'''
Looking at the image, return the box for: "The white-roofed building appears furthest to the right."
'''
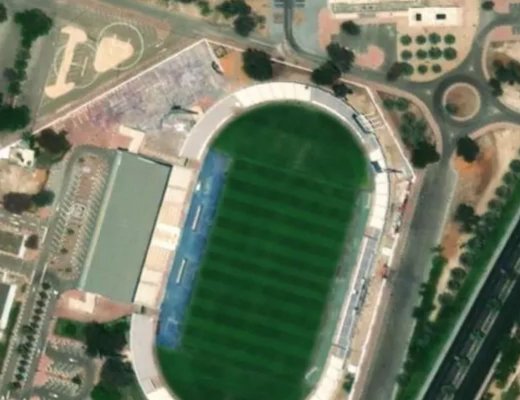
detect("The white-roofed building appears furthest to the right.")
[410,6,464,26]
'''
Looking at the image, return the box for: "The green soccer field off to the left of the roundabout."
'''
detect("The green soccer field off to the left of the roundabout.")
[154,99,375,400]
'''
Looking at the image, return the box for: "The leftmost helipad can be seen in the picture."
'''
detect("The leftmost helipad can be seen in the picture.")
[45,26,99,98]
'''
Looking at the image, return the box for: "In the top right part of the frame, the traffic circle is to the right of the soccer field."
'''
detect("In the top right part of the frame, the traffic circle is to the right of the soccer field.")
[427,68,495,136]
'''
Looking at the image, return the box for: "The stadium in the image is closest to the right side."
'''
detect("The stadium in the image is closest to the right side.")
[129,81,390,400]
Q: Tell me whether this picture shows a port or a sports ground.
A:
sports ground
